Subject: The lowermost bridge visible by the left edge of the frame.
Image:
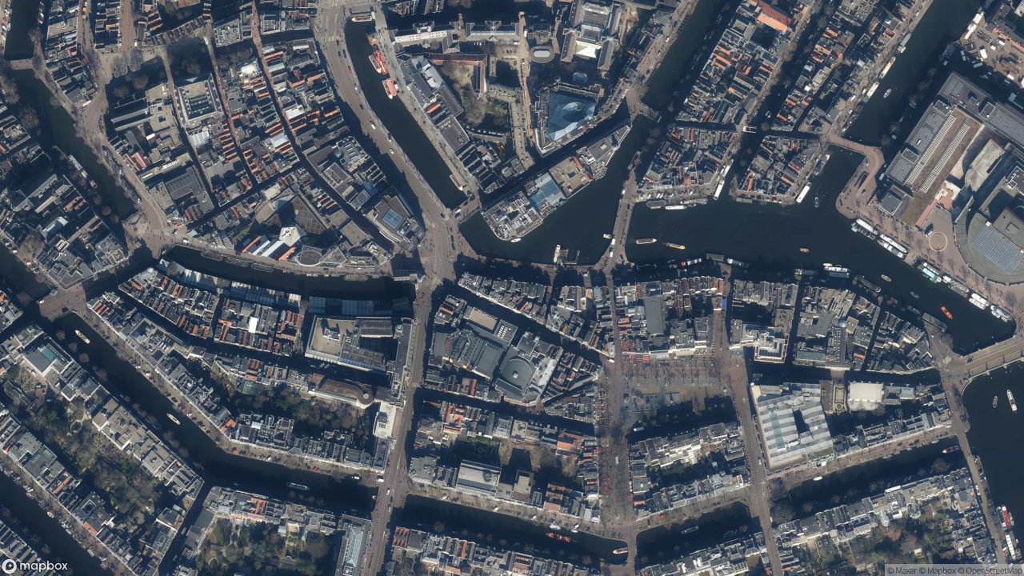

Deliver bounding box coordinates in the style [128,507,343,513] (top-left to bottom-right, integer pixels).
[35,292,74,323]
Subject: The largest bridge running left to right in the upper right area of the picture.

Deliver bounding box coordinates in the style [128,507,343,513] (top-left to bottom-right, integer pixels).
[827,133,883,159]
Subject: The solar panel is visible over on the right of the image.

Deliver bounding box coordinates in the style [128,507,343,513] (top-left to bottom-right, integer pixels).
[973,226,1024,273]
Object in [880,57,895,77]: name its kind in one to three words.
boat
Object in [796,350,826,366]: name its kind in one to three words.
building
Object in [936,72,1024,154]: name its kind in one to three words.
building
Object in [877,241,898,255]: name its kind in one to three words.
boat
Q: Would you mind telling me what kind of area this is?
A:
residential area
